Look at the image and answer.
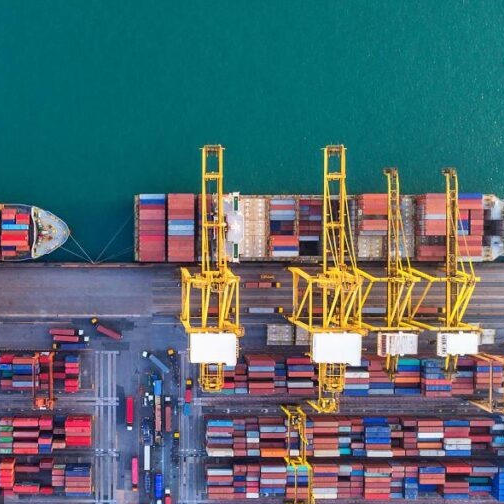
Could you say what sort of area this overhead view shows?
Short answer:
port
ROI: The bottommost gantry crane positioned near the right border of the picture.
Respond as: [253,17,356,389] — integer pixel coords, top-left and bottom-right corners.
[469,351,504,414]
